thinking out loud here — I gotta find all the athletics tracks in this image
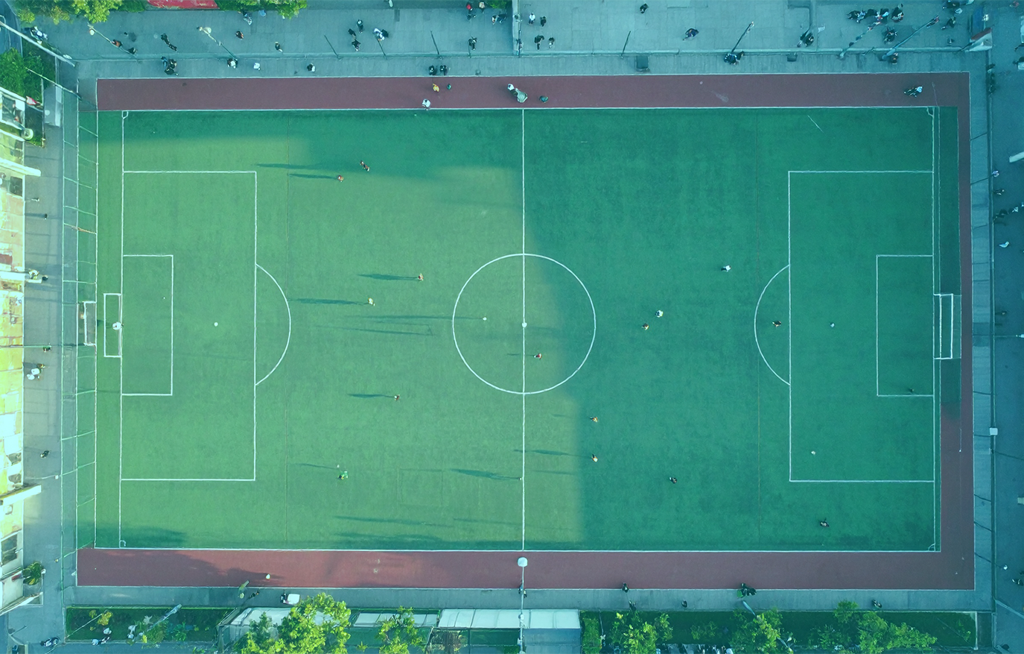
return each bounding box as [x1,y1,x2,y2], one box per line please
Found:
[77,72,975,590]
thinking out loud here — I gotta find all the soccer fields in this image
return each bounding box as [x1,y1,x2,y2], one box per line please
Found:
[76,84,962,585]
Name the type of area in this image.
sports ground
